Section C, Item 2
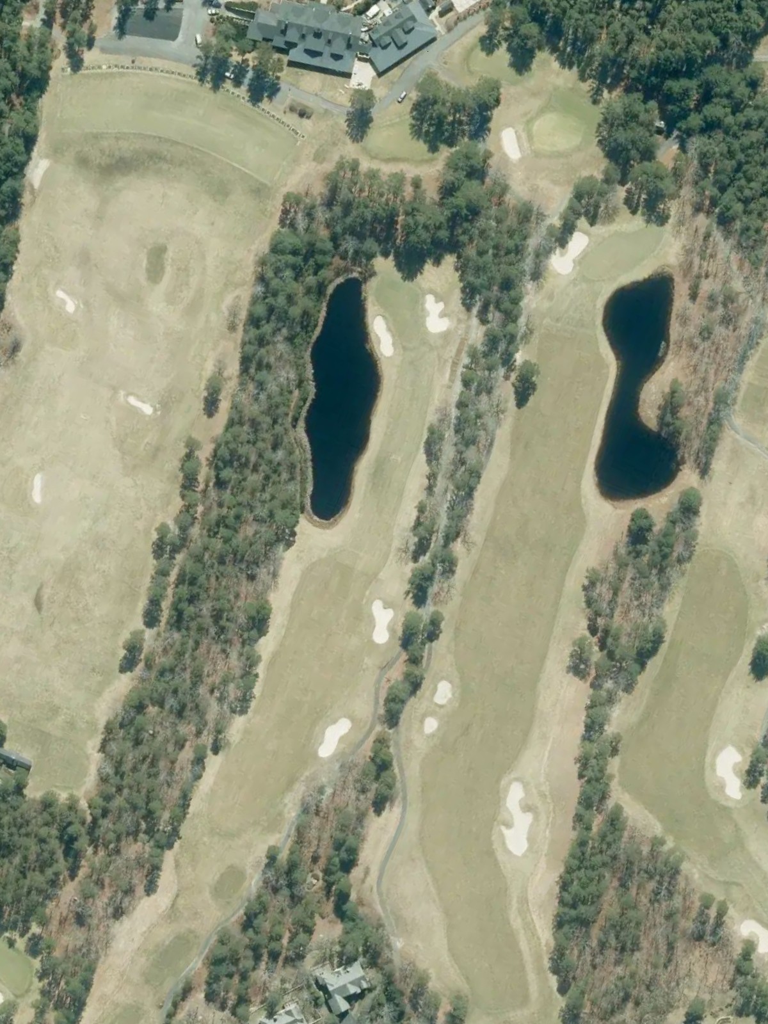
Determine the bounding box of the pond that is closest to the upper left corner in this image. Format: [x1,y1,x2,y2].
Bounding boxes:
[304,277,380,520]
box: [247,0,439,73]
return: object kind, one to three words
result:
building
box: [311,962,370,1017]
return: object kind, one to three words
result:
house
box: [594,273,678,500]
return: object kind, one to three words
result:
pond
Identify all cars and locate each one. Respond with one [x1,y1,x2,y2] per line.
[208,9,218,14]
[225,72,235,79]
[398,91,406,102]
[195,33,201,44]
[210,0,220,7]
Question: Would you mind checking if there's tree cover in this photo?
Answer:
Yes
